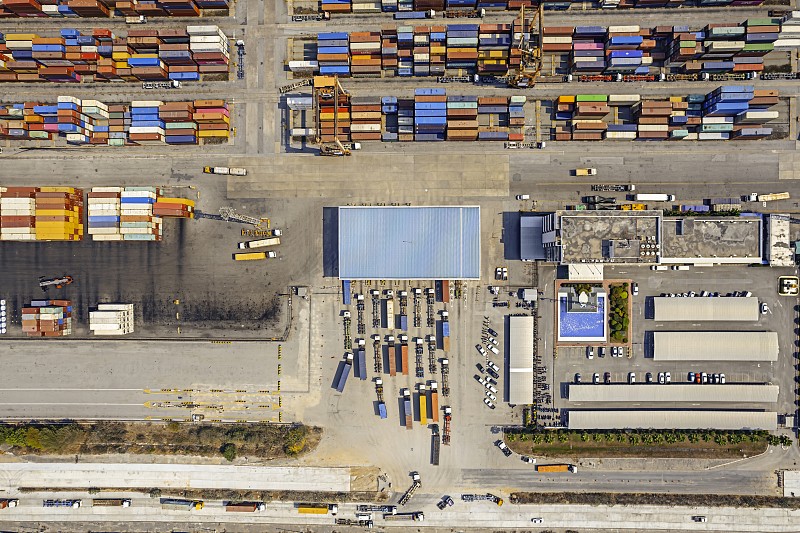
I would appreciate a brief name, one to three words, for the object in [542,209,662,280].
building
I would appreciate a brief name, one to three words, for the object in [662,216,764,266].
building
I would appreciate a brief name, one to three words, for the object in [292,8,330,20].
vehicle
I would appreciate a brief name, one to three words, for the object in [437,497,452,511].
vehicle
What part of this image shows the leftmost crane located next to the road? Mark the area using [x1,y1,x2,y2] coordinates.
[311,74,355,156]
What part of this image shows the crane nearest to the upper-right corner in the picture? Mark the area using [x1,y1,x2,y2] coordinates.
[505,0,548,85]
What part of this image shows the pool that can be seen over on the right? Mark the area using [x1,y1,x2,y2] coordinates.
[558,286,608,342]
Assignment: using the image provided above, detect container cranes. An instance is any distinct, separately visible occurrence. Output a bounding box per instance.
[311,74,355,156]
[505,0,548,85]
